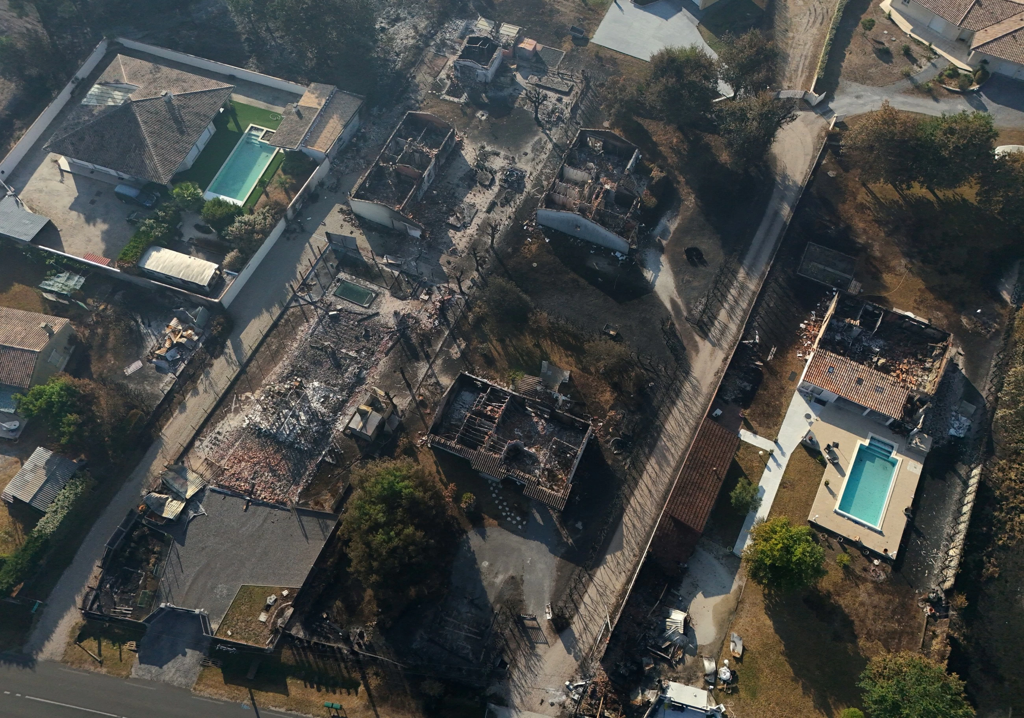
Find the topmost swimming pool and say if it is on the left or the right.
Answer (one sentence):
It is on the left.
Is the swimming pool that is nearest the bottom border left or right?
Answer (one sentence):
The swimming pool that is nearest the bottom border is on the right side of the image.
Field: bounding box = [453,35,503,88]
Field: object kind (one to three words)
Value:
house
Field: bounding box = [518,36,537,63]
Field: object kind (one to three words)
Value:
shed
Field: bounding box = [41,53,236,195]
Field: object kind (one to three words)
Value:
house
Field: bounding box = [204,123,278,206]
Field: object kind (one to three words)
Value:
swimming pool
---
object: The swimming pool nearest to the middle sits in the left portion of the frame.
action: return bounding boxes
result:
[330,275,382,312]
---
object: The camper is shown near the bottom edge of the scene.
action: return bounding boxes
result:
[643,682,708,718]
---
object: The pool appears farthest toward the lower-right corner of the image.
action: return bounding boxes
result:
[834,432,902,529]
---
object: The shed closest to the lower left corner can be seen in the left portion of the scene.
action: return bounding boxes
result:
[2,447,79,511]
